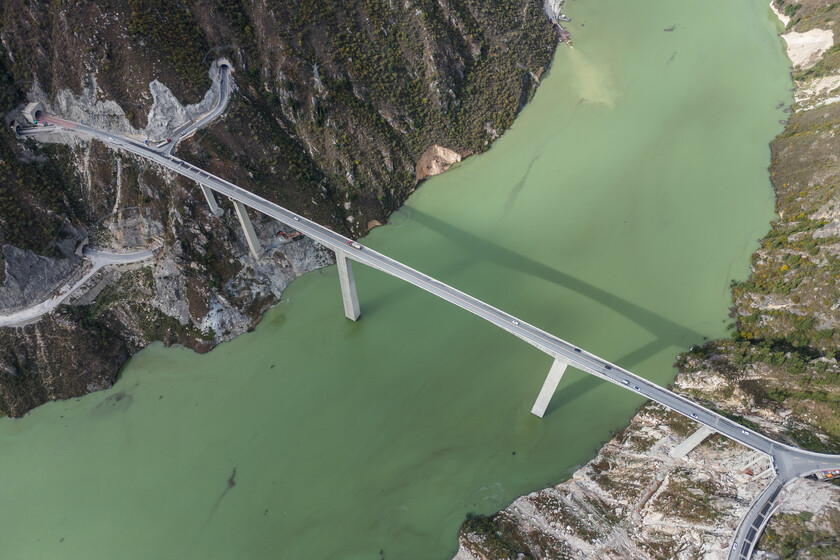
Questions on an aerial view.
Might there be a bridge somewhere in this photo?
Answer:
Yes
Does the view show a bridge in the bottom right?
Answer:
Yes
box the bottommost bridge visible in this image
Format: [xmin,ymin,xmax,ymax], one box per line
[727,473,793,560]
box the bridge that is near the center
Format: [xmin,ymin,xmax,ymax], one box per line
[150,151,766,461]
